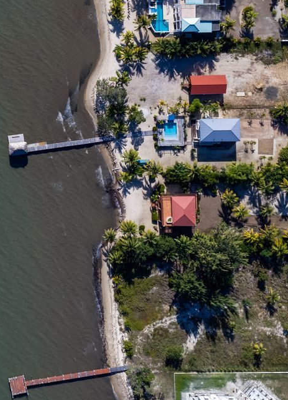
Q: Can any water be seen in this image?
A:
Yes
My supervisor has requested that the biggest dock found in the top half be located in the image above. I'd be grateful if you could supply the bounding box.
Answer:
[26,133,115,152]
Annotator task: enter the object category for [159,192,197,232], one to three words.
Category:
house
